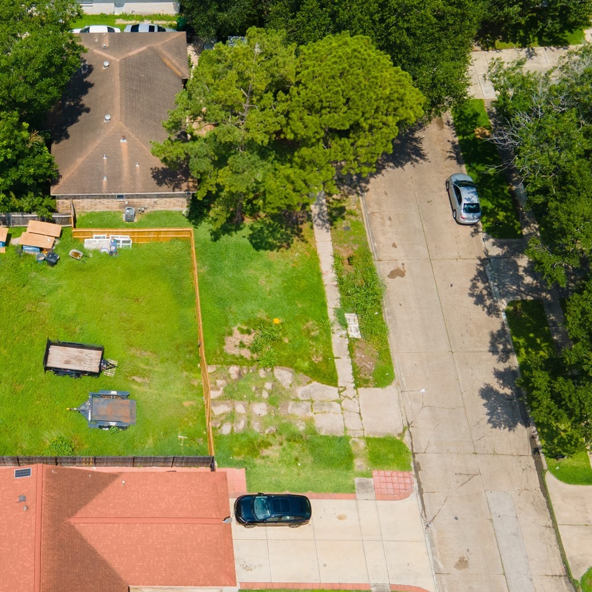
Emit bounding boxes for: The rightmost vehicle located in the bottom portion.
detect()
[233,491,313,530]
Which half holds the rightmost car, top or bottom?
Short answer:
top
